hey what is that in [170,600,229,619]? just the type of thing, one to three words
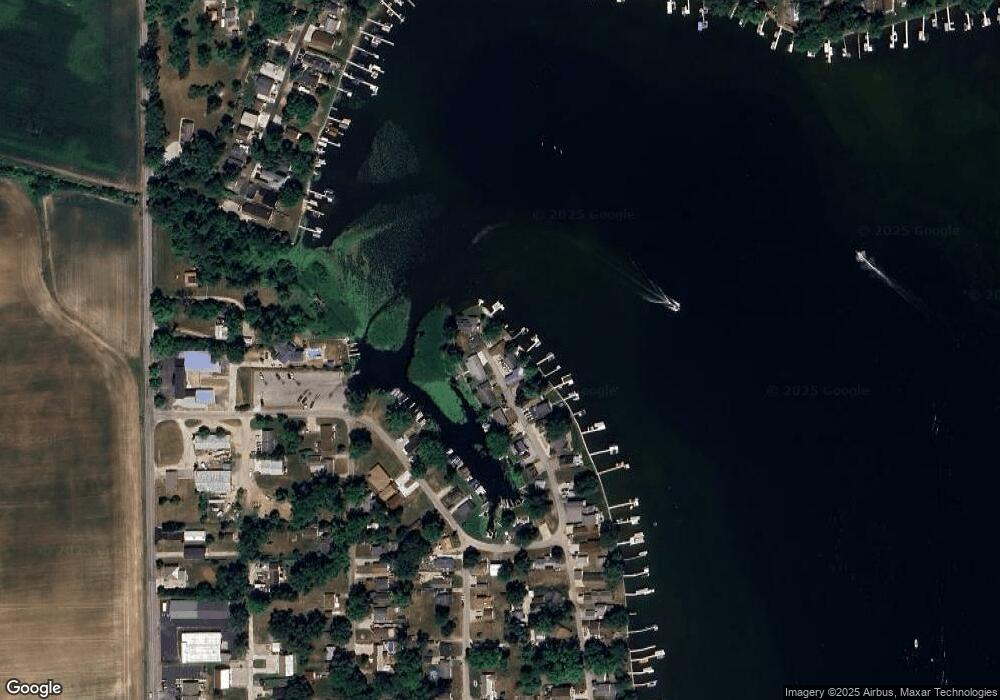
building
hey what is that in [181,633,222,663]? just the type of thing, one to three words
building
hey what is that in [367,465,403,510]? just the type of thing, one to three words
house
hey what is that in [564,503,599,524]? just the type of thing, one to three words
house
